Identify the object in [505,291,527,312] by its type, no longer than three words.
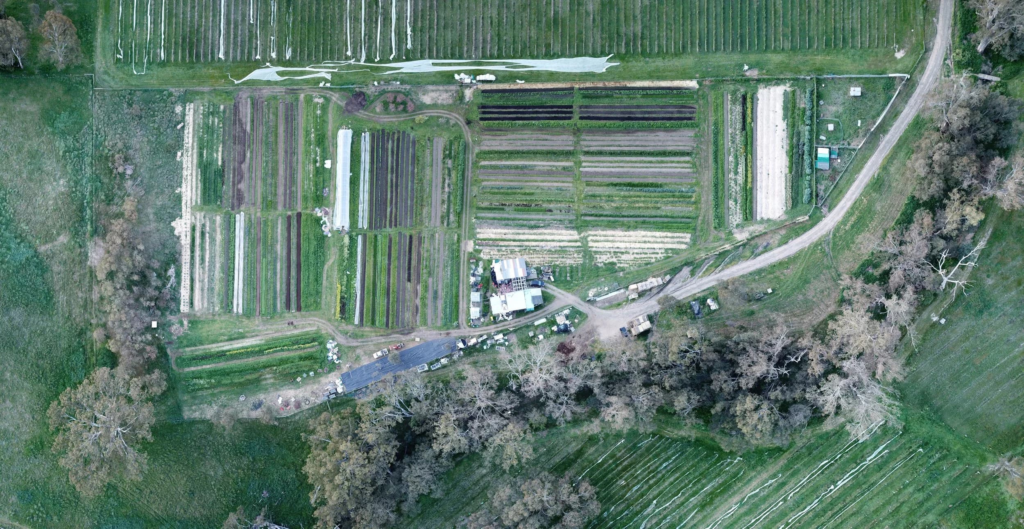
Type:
shed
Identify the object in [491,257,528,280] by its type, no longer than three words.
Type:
shed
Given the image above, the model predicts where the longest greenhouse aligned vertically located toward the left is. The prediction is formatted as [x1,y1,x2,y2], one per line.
[334,129,352,229]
